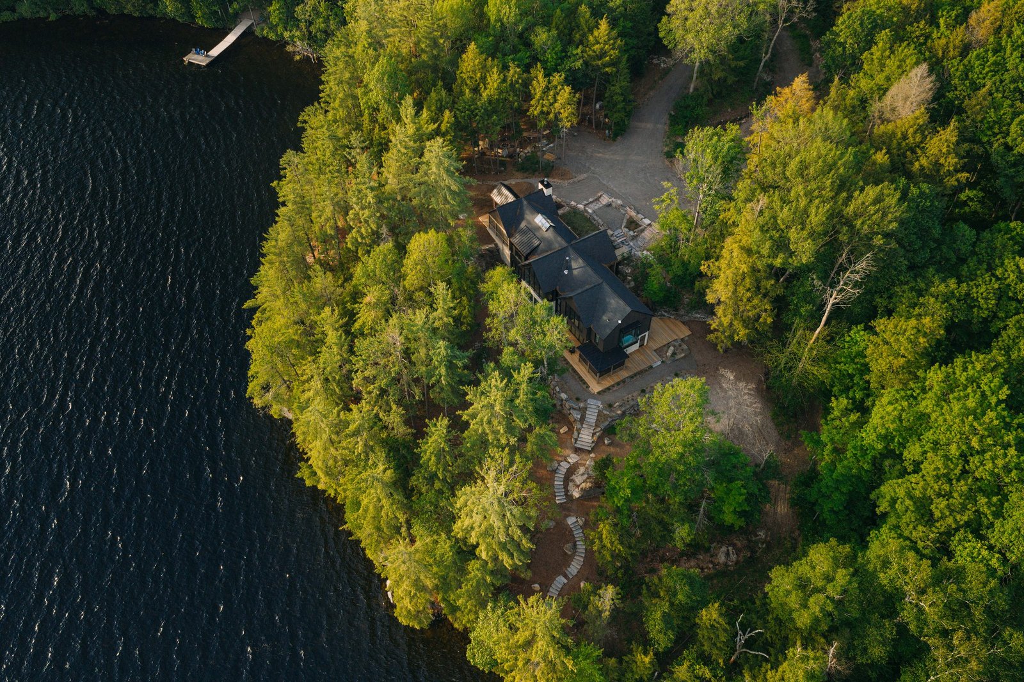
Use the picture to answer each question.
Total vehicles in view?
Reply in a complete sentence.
There are no vehicles in this view.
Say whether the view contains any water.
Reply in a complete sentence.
Yes, there is water in the image.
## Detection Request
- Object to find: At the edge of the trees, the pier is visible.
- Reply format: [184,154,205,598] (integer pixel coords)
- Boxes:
[184,19,253,67]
